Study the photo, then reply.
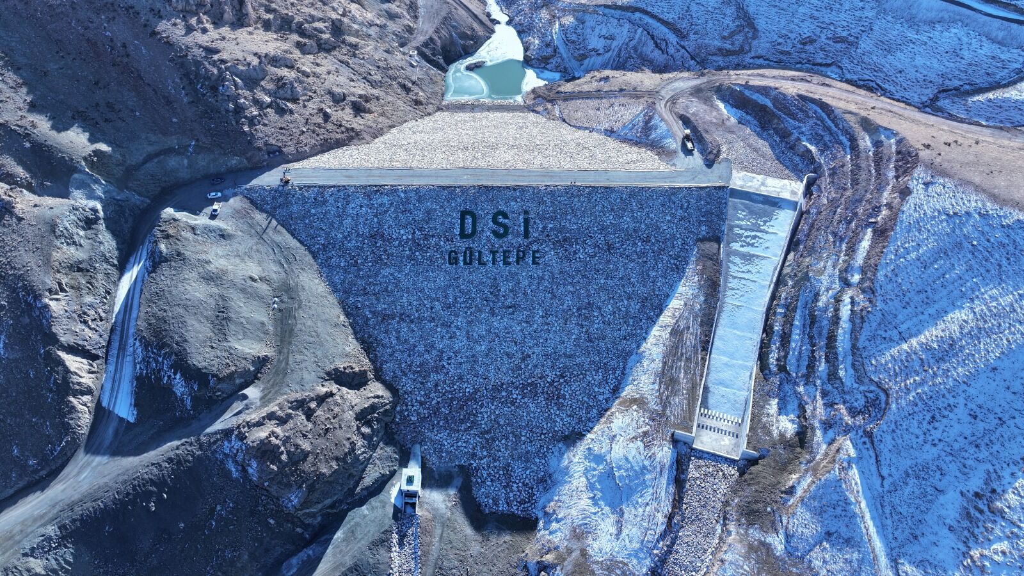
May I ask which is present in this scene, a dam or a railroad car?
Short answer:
dam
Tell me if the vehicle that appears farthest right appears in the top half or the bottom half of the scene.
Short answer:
top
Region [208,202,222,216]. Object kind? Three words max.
vehicle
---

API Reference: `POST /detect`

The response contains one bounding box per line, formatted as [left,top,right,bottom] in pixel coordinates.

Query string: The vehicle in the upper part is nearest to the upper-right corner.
[682,127,702,149]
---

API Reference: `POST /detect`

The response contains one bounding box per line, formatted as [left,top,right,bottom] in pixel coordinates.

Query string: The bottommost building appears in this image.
[399,422,422,524]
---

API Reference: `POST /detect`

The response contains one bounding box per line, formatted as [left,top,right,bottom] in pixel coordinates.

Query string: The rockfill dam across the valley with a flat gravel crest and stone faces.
[238,103,736,521]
